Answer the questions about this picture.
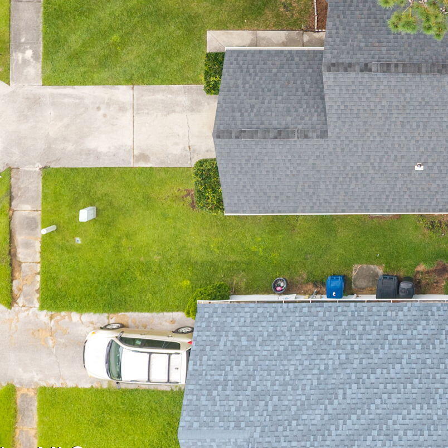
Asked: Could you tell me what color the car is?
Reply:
white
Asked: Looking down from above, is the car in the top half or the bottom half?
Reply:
bottom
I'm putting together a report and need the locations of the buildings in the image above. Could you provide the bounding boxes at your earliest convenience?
[212,0,448,216]
[177,289,448,448]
